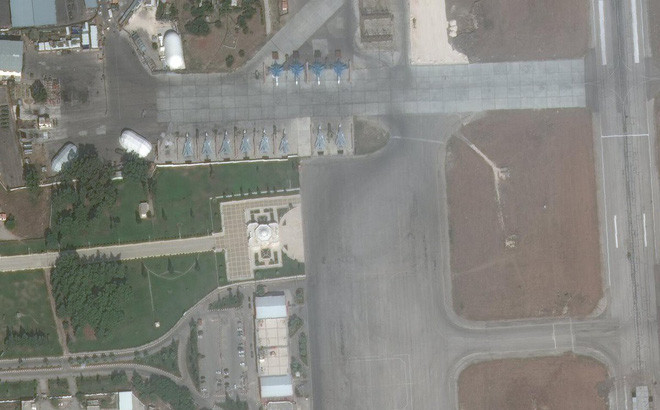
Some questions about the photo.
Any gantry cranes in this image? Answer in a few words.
No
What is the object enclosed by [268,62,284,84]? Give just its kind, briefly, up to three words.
airplane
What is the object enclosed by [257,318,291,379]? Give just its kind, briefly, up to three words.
building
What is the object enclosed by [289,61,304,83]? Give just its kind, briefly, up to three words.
airplane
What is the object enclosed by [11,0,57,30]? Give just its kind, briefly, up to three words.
hangar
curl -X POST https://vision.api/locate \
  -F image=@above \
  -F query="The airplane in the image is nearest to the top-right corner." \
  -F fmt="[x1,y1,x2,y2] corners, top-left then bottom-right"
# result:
[331,60,346,82]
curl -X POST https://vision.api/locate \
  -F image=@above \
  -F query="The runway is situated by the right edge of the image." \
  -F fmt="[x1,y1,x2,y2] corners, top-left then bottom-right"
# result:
[586,0,660,410]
